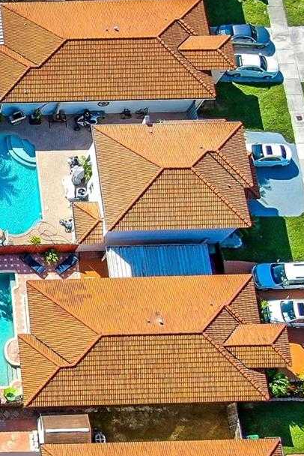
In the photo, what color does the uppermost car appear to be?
blue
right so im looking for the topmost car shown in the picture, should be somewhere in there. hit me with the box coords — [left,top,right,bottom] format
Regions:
[214,22,270,49]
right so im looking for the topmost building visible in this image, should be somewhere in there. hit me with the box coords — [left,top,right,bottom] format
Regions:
[0,0,233,115]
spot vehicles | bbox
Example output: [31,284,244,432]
[251,261,304,292]
[265,298,304,328]
[224,55,282,82]
[237,141,296,169]
[214,22,270,49]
